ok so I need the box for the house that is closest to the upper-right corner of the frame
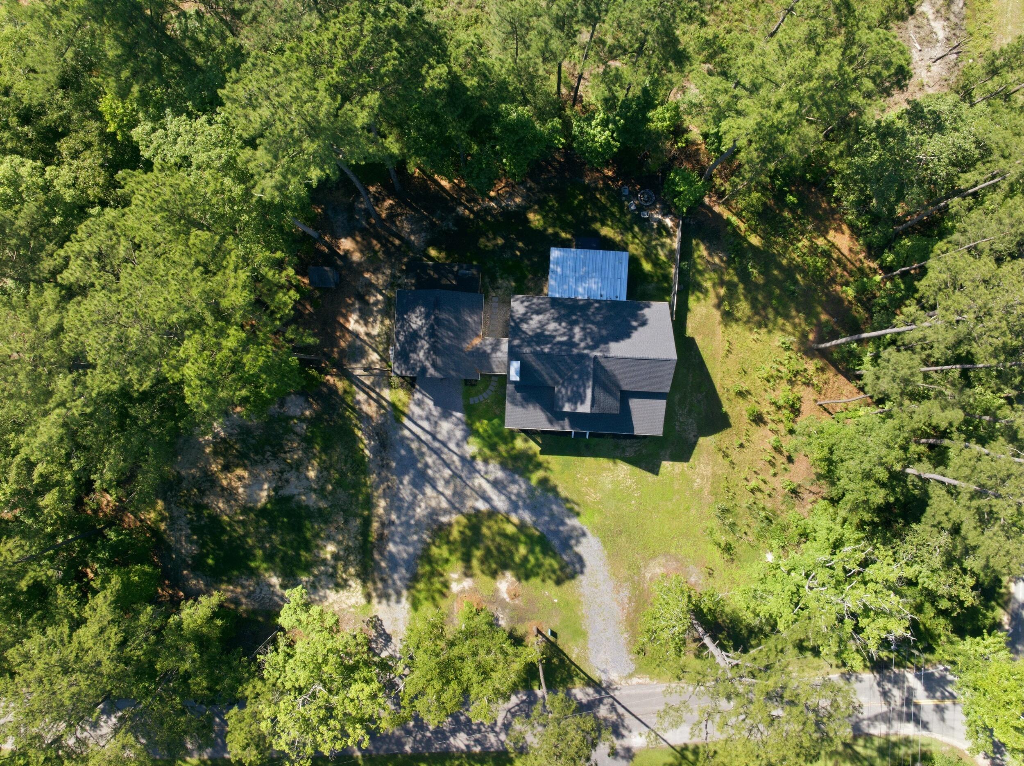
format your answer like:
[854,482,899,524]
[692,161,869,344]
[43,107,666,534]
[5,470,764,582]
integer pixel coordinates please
[392,287,677,439]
